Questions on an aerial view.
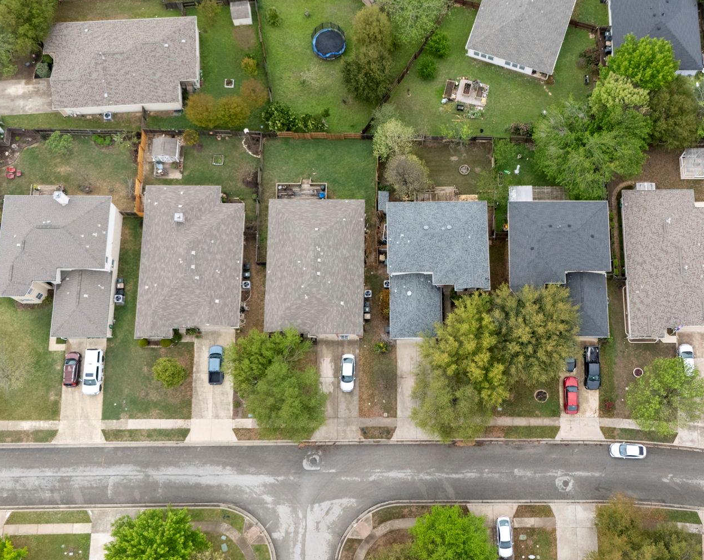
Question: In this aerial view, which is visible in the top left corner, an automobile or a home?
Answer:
home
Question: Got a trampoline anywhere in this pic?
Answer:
Yes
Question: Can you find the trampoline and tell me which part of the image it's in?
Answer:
top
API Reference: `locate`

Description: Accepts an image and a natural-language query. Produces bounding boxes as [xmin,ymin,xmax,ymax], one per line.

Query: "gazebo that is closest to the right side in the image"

[678,148,704,180]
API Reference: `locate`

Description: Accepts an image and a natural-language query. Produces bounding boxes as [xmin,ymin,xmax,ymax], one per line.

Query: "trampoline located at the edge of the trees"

[311,22,344,58]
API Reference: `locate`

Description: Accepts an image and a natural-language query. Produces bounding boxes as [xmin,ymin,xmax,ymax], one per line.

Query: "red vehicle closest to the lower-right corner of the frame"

[563,376,581,416]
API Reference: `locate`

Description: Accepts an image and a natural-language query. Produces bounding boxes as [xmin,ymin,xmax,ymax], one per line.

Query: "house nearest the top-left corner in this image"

[41,16,203,116]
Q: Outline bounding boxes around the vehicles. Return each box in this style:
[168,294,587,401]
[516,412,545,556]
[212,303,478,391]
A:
[496,515,514,559]
[563,376,581,416]
[206,345,224,386]
[680,343,700,380]
[338,354,357,393]
[583,344,603,391]
[81,349,103,395]
[608,441,648,459]
[62,349,83,389]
